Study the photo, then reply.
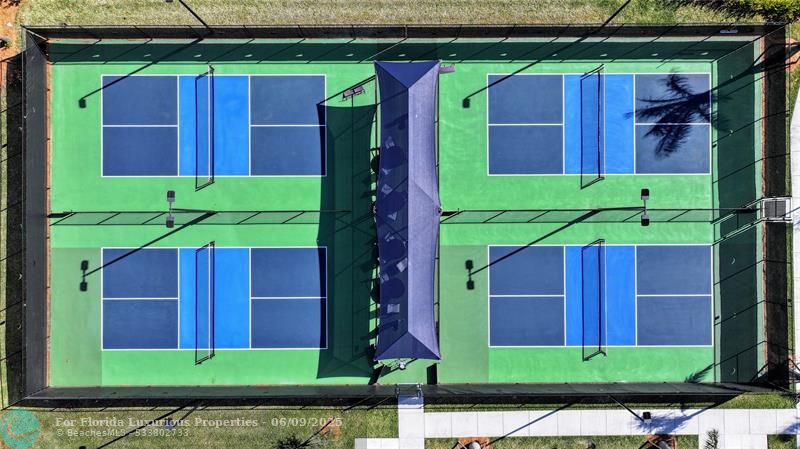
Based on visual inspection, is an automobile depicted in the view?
No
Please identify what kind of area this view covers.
sports ground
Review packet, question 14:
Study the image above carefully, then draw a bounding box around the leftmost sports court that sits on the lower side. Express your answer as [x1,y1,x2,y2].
[102,247,327,350]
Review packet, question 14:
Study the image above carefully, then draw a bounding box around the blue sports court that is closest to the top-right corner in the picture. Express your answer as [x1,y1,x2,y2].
[488,73,712,176]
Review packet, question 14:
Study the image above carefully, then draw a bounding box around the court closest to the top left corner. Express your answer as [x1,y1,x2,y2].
[102,74,326,177]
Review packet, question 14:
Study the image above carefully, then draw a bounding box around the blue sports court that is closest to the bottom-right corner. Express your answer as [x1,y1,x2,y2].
[488,244,713,347]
